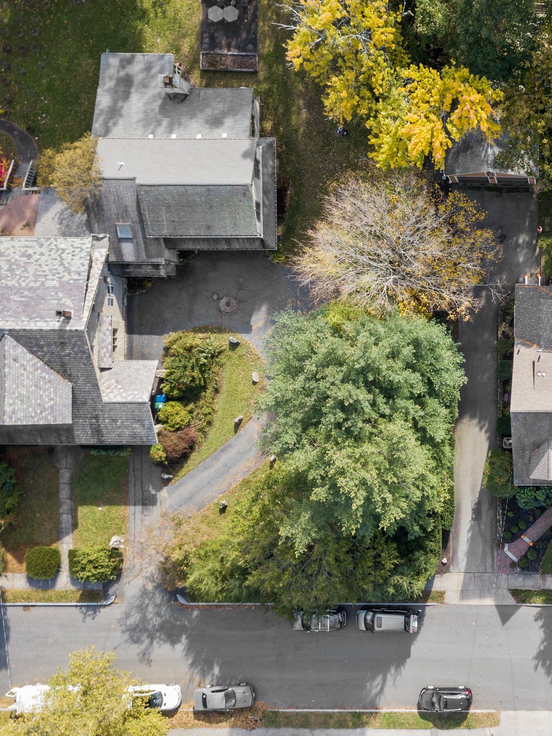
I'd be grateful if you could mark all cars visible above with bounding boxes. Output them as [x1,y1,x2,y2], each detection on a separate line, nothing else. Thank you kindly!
[418,686,473,717]
[355,606,418,637]
[290,606,349,636]
[121,684,184,715]
[191,682,257,715]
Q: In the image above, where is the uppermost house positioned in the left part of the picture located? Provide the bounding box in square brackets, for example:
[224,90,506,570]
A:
[89,52,285,278]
